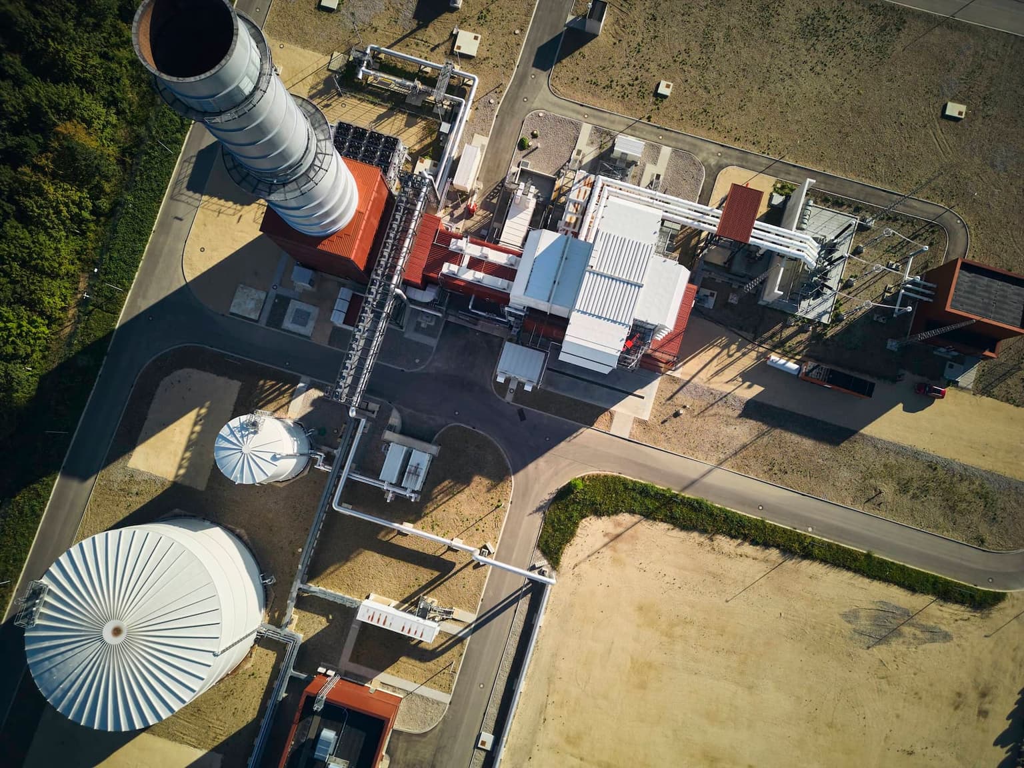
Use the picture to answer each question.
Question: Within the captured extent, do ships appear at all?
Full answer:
No, there's no ship here.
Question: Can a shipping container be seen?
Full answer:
Yes, a shipping container appears in the view.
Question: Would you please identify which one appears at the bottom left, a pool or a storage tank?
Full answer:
The feature located at the bottom left is a storage tank.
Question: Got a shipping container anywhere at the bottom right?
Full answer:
No, the scene shows no shipping container at the bottom right.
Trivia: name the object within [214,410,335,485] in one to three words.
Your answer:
storage tank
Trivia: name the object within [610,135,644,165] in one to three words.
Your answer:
building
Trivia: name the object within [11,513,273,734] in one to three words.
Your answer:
storage tank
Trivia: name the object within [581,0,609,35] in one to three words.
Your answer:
shed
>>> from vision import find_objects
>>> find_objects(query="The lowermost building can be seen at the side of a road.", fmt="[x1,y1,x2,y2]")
[283,656,400,768]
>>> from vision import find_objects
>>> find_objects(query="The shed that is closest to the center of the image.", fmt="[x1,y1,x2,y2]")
[496,341,549,392]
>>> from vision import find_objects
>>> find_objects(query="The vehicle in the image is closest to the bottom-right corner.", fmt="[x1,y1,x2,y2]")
[916,381,950,400]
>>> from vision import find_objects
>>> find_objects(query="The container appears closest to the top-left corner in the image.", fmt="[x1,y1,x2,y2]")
[453,143,484,198]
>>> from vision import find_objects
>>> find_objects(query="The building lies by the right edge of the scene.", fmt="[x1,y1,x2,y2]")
[910,260,1024,351]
